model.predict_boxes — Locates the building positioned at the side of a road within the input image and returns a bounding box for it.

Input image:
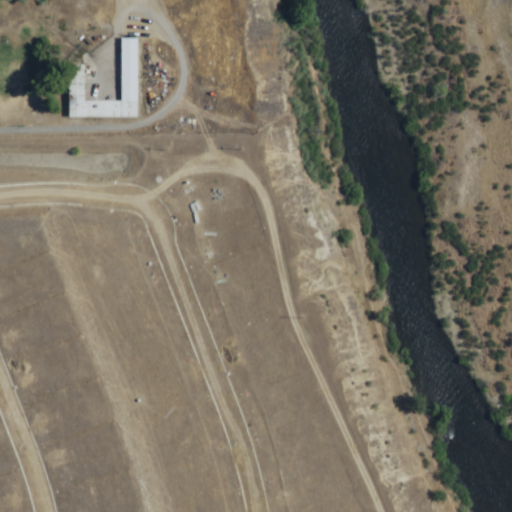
[69,37,138,118]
